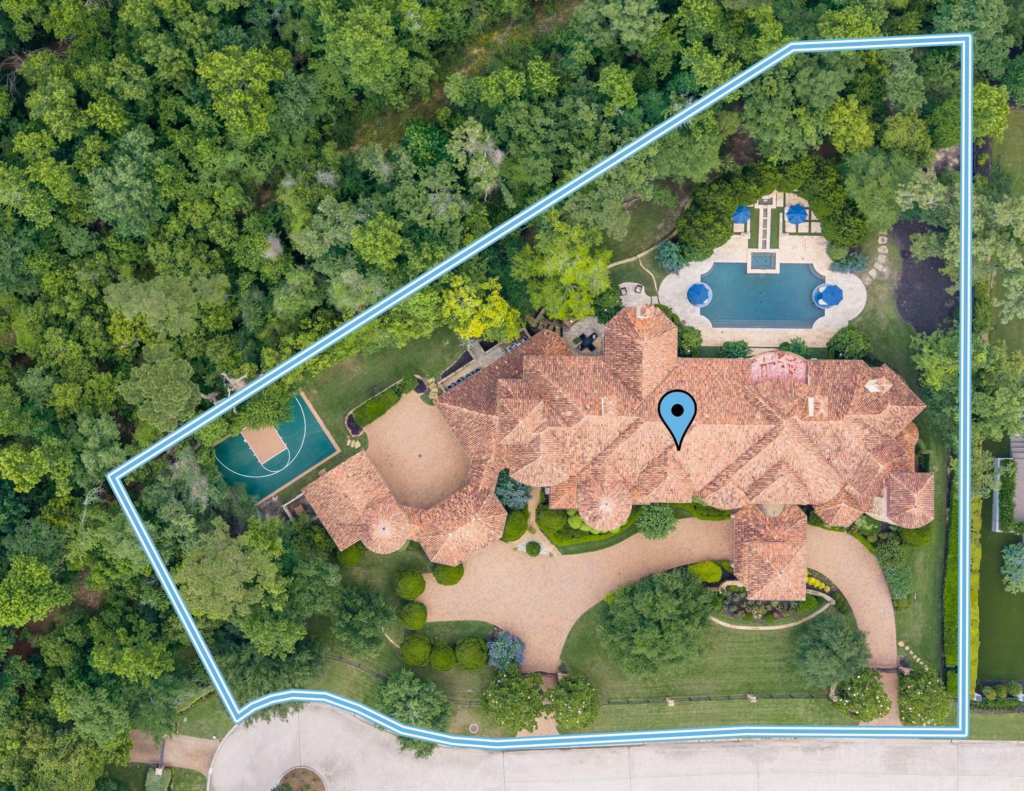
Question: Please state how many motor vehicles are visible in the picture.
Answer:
zero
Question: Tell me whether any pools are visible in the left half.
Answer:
No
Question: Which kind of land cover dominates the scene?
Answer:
trees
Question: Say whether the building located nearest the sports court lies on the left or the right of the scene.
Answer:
left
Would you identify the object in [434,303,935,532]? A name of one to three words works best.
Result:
house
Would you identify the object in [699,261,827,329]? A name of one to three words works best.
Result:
swimming pool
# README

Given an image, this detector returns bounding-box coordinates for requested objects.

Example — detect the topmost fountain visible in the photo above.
[754,191,776,209]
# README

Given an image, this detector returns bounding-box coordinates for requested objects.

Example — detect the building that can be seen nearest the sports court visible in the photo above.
[301,449,412,555]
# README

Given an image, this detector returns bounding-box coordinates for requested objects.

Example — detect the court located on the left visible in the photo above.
[220,391,340,505]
